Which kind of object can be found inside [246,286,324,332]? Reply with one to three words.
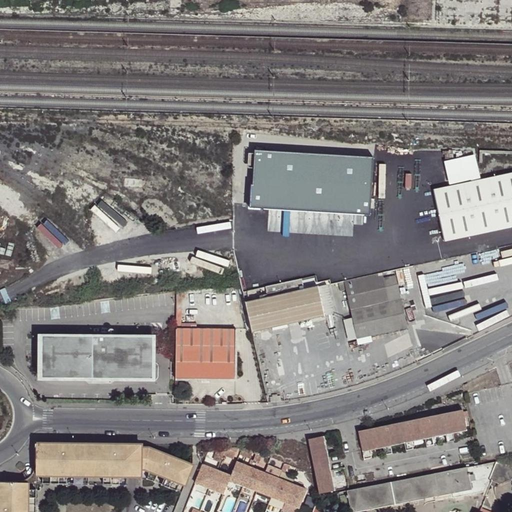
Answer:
building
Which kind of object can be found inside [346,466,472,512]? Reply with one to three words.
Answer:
building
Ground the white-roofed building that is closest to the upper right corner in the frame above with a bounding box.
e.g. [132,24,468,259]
[444,154,481,184]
